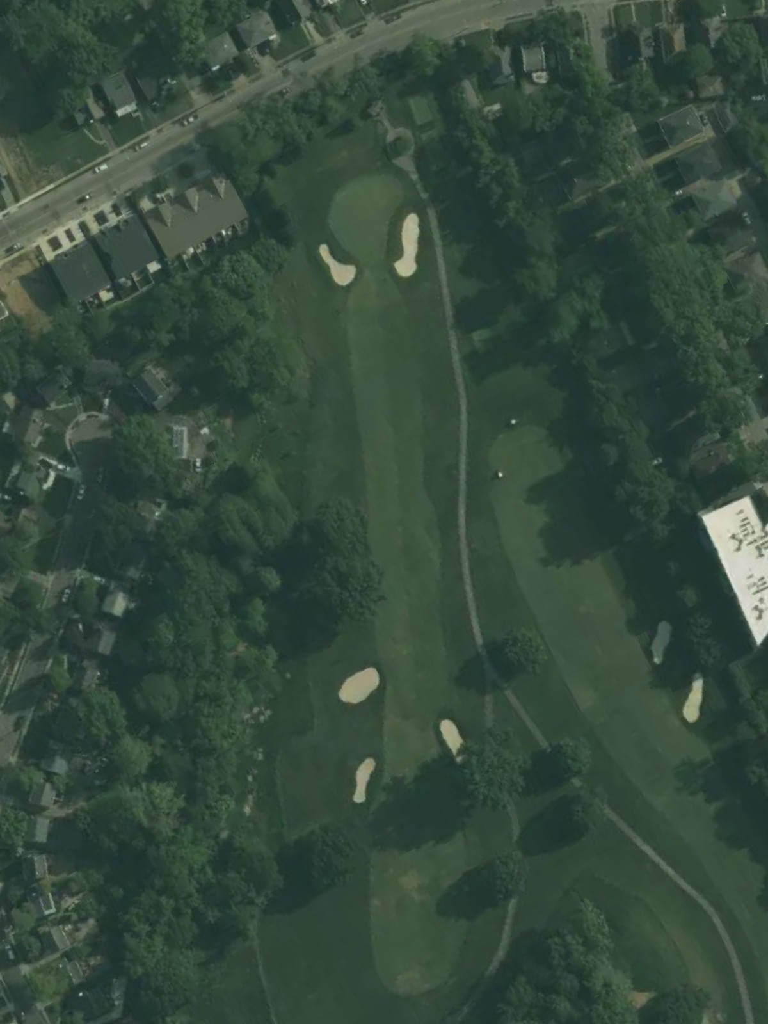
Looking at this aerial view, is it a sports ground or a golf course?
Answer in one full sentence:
What you see here is a golf course.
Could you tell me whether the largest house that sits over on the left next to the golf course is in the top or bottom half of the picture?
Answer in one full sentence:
The largest house that sits over on the left next to the golf course sits in the top half of the picture.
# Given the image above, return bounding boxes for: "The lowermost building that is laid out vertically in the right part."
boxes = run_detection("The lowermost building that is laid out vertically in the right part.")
[699,496,768,646]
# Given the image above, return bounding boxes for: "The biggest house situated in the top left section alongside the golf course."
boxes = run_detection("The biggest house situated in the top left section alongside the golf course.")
[145,176,247,259]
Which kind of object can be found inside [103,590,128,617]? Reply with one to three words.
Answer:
house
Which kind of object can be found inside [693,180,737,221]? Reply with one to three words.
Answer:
house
